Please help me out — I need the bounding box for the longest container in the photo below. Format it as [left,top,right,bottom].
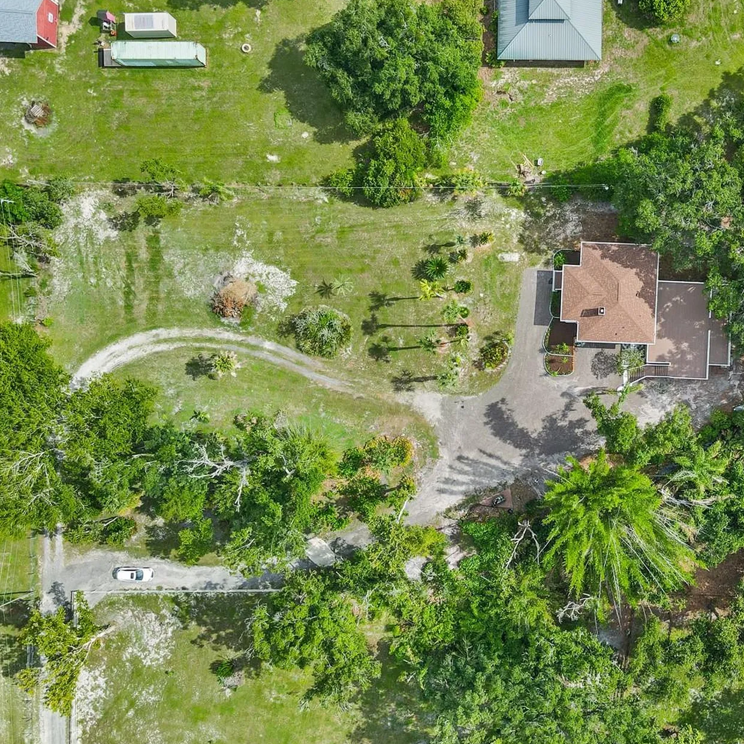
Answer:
[111,40,206,67]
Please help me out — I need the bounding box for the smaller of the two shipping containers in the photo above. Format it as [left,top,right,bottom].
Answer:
[125,12,178,39]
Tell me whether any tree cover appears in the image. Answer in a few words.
Yes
